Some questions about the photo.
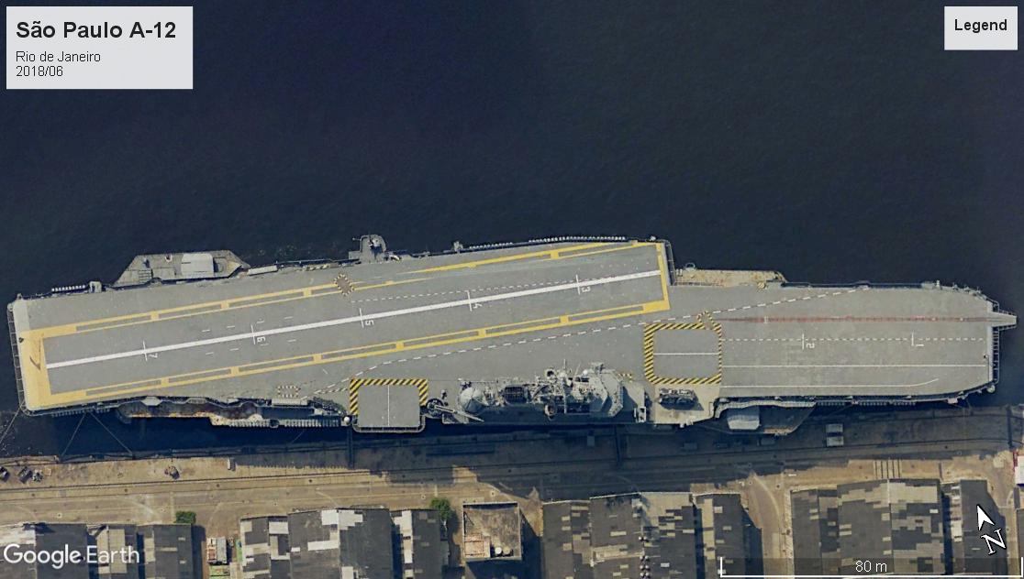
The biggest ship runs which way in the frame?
horizontally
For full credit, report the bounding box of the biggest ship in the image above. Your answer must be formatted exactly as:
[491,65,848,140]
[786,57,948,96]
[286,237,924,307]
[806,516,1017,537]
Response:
[7,231,1017,436]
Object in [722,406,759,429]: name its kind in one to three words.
boat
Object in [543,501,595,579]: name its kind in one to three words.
building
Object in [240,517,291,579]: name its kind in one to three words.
building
